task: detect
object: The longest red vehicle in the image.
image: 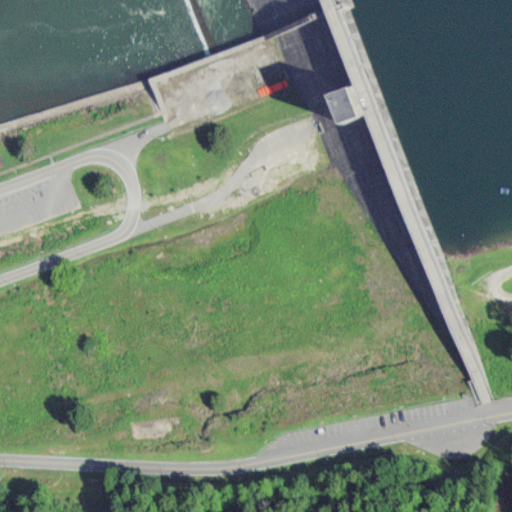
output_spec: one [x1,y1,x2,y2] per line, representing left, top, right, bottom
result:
[256,81,288,97]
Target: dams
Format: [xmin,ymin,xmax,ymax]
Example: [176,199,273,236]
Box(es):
[238,0,496,402]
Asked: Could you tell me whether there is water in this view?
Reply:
Yes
